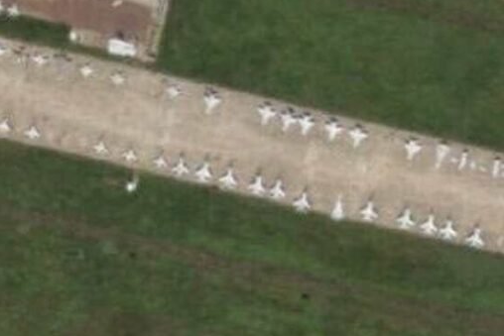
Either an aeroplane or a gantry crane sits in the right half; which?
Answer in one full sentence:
The feature located in the right half is an aeroplane.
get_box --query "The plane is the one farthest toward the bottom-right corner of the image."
[467,228,484,250]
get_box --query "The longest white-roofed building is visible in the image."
[106,37,136,57]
